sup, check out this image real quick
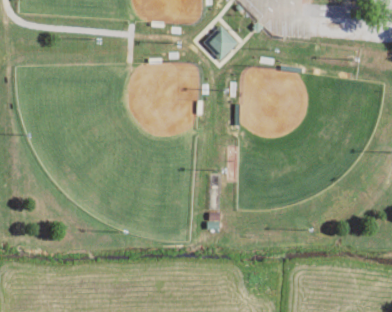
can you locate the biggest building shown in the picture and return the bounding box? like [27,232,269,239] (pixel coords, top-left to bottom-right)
[204,26,237,60]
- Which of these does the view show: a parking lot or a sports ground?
sports ground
